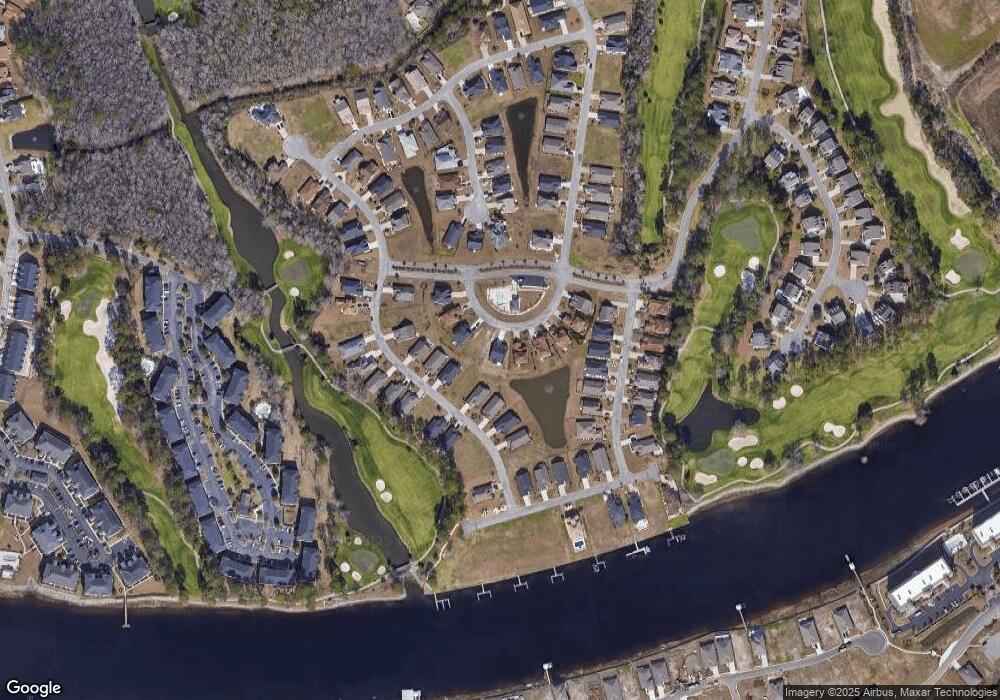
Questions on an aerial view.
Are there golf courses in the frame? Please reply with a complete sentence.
Yes, a golf course can be made out from above.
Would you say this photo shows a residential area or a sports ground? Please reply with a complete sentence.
The picture captures a residential area.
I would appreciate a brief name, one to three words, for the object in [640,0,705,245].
golf course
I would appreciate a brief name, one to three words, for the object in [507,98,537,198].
pond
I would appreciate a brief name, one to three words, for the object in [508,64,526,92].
house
